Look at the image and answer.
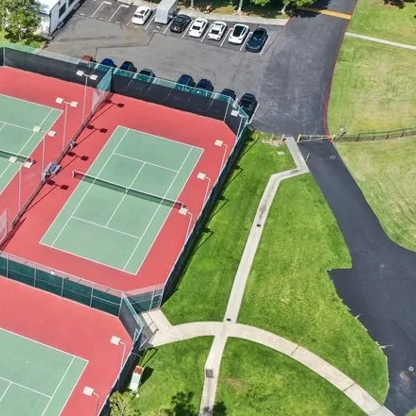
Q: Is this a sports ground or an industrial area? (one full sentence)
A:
This image shows a sports ground.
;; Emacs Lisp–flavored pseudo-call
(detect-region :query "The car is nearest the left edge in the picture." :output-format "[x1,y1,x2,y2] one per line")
[71,58,92,71]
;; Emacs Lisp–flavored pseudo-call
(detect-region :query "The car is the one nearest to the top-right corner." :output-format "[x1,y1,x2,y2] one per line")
[248,28,269,49]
